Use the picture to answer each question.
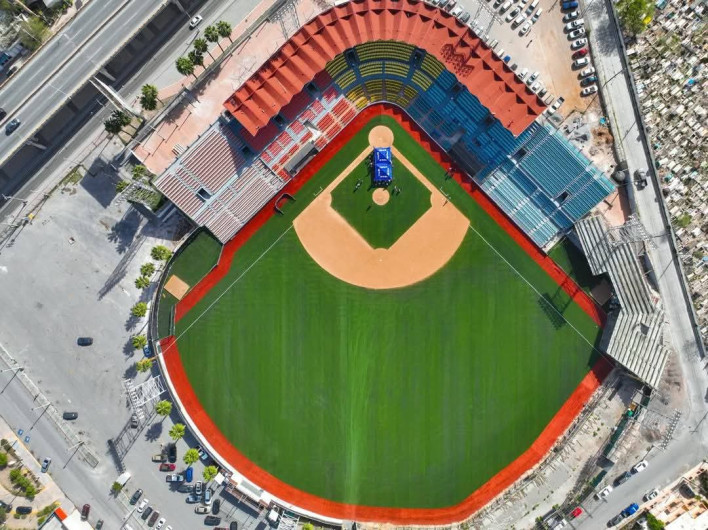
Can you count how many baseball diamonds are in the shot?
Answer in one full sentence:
The picture shows just 1 baseball diamond.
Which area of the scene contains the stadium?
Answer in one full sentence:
The stadium sits in the top section of the image.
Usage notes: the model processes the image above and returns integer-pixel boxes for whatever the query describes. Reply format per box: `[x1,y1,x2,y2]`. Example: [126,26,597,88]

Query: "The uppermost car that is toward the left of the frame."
[187,15,202,28]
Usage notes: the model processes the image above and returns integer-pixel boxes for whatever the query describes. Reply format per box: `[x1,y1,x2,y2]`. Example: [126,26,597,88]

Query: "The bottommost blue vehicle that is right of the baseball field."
[621,503,639,518]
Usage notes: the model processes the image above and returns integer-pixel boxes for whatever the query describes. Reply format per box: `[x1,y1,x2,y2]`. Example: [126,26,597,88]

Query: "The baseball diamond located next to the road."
[156,102,615,524]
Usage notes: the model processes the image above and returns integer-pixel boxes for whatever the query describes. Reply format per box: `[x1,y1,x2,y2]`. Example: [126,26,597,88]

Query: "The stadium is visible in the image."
[152,0,624,252]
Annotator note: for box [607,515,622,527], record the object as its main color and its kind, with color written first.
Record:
gray vehicle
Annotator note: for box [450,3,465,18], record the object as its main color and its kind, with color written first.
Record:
white vehicle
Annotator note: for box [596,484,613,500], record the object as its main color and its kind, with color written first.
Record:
white vehicle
